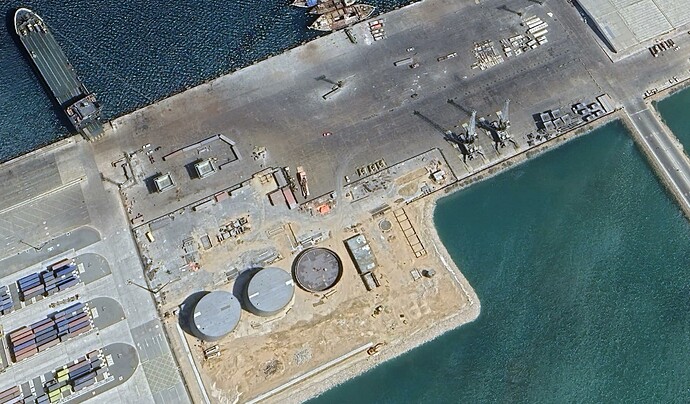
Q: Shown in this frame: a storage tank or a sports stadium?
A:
storage tank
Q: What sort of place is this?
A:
port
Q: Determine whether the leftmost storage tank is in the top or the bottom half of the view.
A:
bottom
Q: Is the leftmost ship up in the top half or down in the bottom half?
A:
top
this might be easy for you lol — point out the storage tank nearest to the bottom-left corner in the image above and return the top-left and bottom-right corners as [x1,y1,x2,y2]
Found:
[189,290,241,341]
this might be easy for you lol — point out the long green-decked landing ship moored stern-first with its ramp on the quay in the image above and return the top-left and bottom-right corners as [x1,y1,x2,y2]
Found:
[15,7,152,143]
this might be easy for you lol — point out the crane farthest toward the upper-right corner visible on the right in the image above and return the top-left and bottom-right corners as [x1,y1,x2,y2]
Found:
[484,99,522,157]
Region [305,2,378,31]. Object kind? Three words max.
boat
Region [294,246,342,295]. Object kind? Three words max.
storage tank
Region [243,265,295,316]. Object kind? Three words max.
storage tank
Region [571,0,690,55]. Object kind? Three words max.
building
